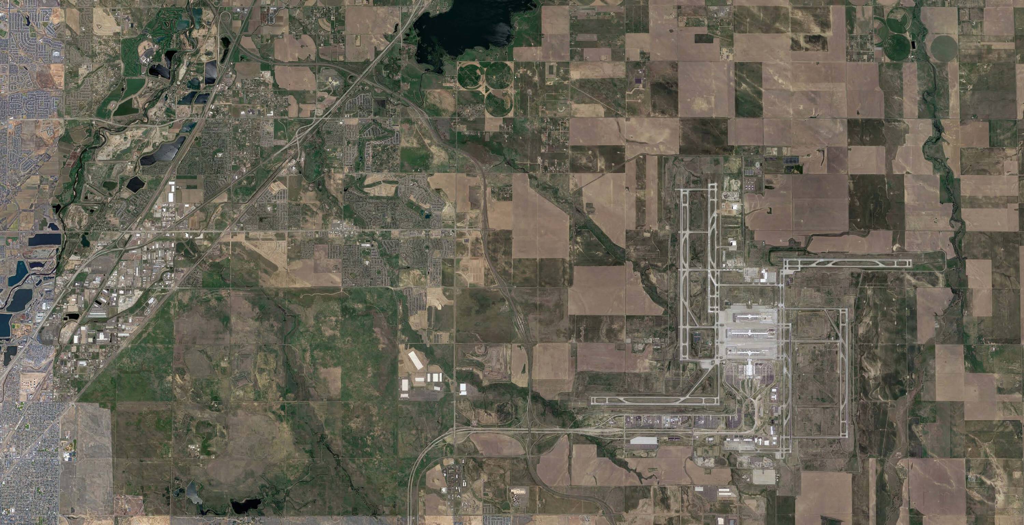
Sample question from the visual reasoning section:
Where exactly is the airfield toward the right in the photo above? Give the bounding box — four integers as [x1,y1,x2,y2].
[591,183,912,460]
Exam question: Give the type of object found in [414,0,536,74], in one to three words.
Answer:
pond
